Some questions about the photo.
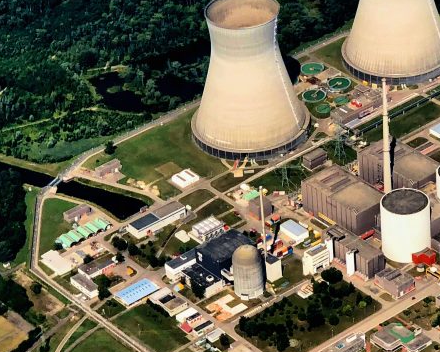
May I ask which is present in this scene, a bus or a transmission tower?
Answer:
transmission tower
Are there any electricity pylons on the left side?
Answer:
No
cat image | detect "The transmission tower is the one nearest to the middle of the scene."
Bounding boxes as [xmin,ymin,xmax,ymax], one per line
[275,156,295,190]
